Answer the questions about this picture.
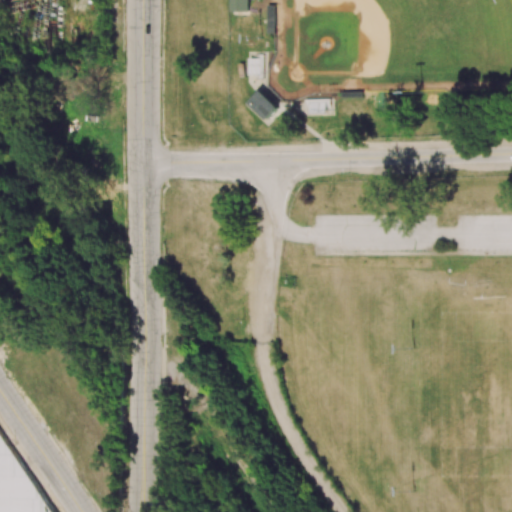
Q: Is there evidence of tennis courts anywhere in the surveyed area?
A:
No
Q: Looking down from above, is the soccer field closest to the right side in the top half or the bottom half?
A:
bottom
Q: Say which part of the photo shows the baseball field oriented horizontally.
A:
top right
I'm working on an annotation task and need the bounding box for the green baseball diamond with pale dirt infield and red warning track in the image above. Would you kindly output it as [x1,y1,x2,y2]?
[269,0,512,101]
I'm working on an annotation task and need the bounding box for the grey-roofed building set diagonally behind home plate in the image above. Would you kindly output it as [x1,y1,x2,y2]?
[246,91,280,118]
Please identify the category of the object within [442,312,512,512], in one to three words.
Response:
soccer field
